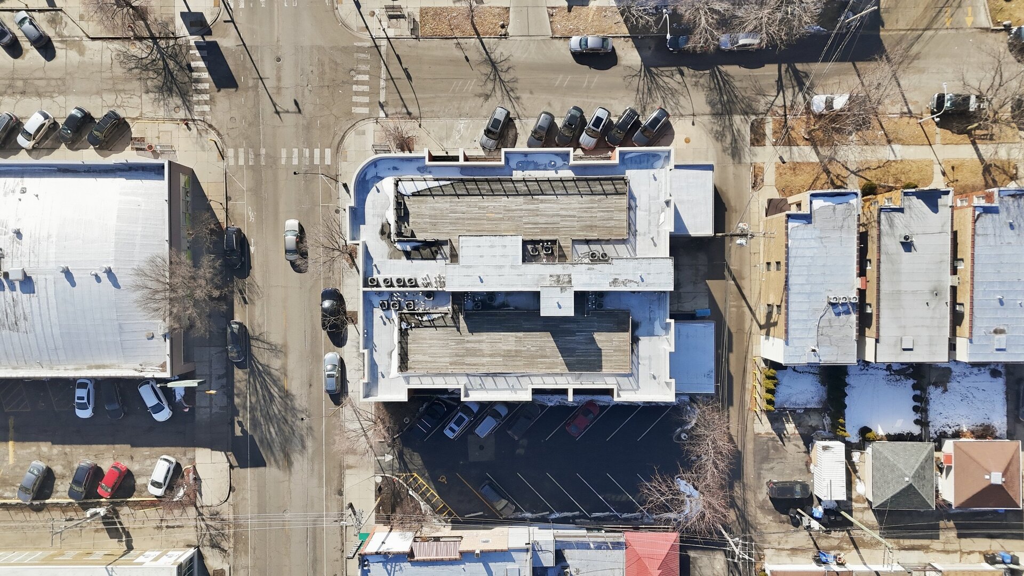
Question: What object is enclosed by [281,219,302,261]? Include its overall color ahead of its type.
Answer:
gray car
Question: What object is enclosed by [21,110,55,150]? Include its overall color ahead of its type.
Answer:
white car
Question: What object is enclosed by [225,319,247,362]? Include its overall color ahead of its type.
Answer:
black car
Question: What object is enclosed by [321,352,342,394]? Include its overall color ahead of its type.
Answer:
gray car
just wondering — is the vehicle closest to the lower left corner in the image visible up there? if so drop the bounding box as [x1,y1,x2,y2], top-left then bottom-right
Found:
[19,458,50,502]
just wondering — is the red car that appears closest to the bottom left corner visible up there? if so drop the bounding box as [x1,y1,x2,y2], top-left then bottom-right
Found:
[100,460,129,498]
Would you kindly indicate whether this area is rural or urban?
urban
